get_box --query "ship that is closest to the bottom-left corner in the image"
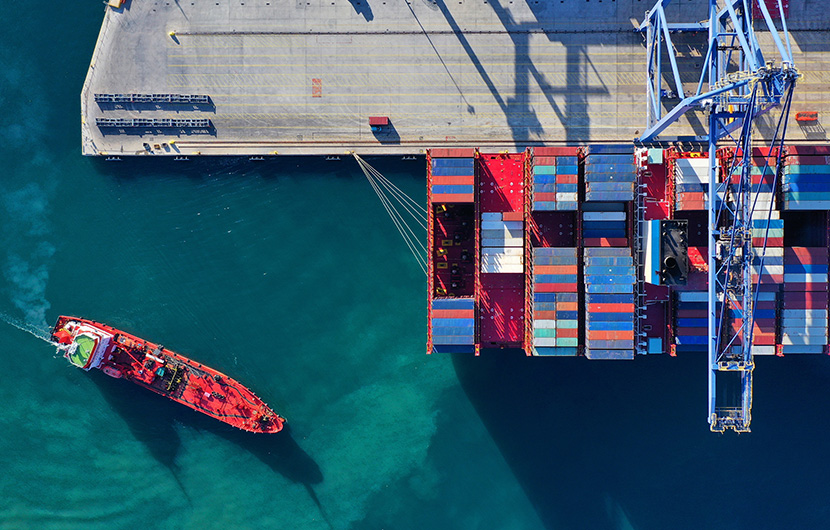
[49,314,291,432]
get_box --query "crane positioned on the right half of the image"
[630,0,809,434]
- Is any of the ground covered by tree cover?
No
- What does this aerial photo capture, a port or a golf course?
port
